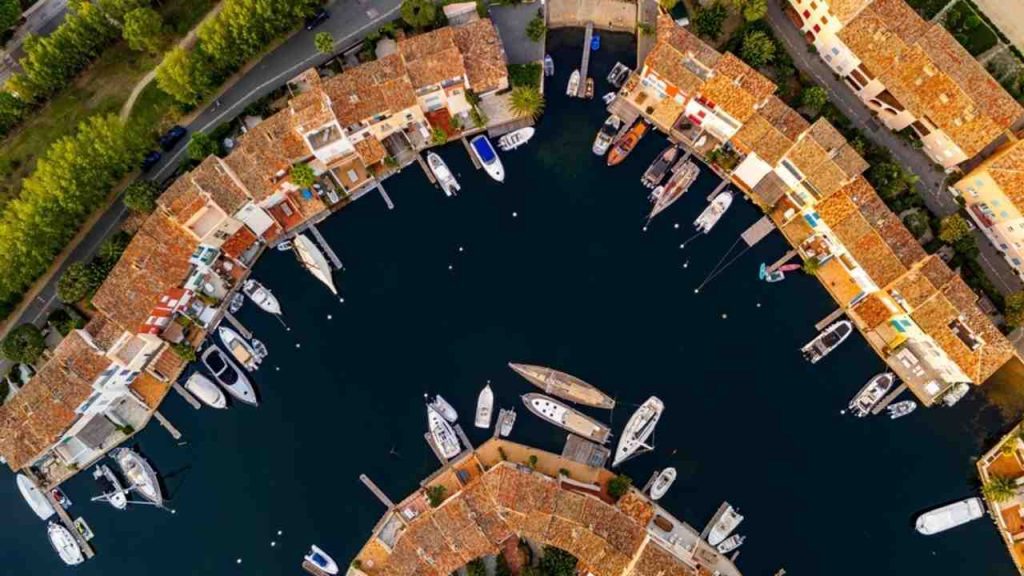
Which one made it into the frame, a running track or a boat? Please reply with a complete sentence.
There is a boat in the scene.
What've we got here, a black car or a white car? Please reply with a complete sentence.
Of the two, only a black car appears.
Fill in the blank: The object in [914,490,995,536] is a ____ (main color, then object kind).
white boat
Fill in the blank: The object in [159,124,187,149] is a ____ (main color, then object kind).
black car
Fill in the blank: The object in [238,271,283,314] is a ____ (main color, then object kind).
white boat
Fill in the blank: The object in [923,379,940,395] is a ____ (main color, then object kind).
white umbrella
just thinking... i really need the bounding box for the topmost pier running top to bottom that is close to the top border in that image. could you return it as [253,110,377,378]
[574,24,592,98]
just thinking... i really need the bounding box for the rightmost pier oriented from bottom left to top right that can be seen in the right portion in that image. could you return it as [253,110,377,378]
[871,381,907,416]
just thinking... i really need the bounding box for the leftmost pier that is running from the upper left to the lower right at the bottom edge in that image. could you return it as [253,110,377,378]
[45,488,98,559]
